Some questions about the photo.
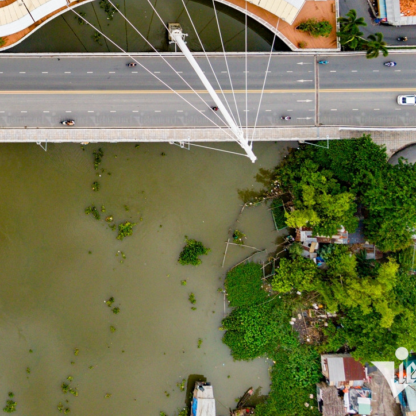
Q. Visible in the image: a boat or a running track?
boat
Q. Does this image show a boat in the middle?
No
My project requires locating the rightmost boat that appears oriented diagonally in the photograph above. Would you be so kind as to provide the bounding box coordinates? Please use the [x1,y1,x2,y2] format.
[237,388,253,410]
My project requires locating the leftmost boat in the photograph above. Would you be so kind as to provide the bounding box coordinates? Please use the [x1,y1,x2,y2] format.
[193,380,216,416]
